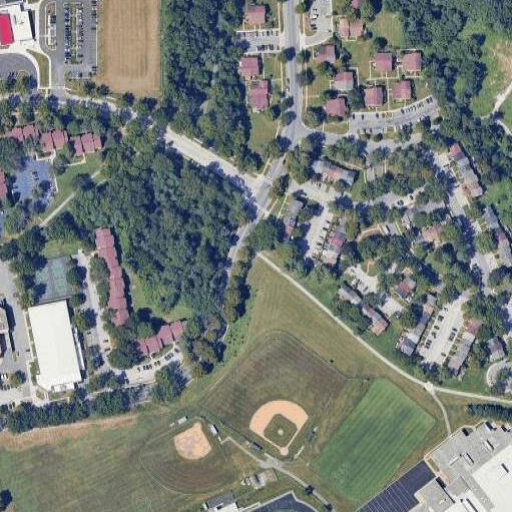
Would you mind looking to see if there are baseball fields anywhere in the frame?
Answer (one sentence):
Yes, a baseball field is visible in the scene.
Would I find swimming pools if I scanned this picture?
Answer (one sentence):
No, there isn't any swimming pool down there.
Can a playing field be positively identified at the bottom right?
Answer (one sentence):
Yes, a playing field shows up at the bottom right.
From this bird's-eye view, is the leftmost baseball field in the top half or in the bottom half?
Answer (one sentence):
The leftmost baseball field sits in the bottom half of the picture.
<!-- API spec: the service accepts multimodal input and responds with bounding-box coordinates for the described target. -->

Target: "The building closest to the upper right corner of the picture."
[402,54,422,73]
